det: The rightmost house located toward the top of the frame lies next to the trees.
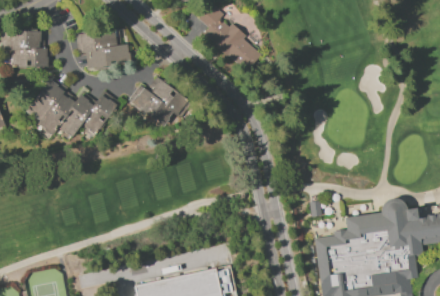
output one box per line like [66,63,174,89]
[198,6,264,64]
